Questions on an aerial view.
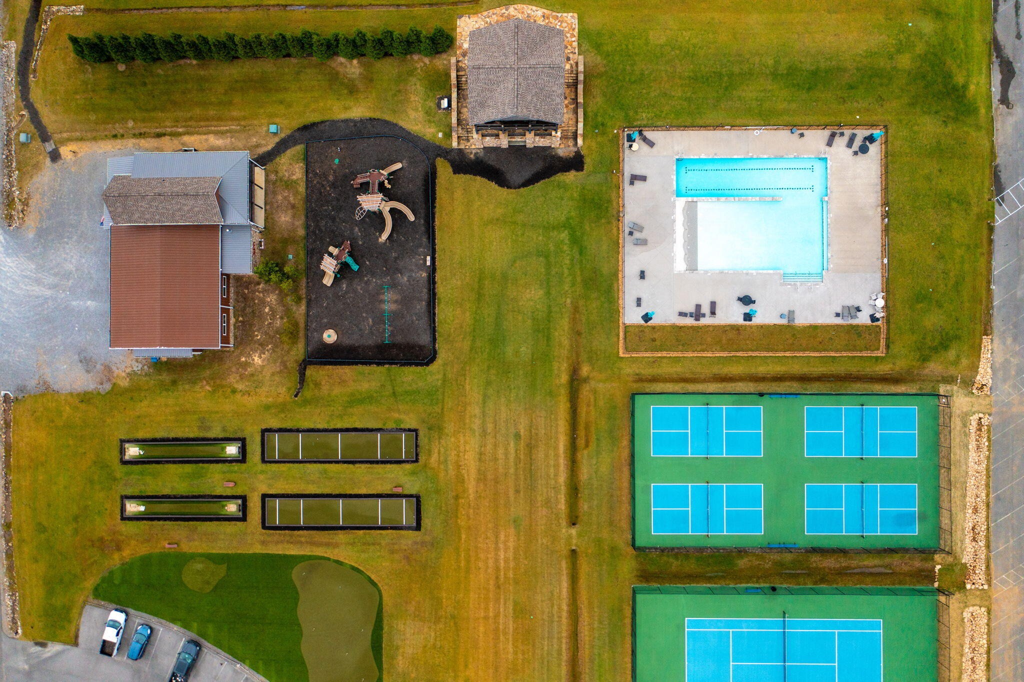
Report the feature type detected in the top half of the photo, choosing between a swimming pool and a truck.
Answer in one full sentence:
Visible in the top half of the photo is a swimming pool.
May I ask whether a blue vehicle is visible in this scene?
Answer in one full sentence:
Yes, there is a blue vehicle in the image.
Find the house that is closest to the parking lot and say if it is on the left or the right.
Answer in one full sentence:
The house that is closest to the parking lot is on the left side of the image.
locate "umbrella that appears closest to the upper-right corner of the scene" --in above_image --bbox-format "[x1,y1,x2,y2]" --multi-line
[865,130,888,145]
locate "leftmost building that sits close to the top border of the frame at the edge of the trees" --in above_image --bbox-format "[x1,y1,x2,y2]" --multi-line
[451,5,584,148]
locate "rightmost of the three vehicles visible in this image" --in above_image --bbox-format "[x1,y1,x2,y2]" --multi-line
[169,636,203,682]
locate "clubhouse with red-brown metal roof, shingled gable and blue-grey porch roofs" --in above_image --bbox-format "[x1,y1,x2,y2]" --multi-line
[101,148,265,358]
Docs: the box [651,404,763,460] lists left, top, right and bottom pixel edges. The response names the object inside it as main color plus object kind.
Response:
blue sports court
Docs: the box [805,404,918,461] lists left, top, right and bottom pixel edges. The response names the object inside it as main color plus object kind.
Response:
blue sports court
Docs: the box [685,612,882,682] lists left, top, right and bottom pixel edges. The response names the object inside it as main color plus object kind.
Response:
blue tennis court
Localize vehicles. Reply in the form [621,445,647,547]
[169,636,203,682]
[98,605,131,658]
[127,621,155,661]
